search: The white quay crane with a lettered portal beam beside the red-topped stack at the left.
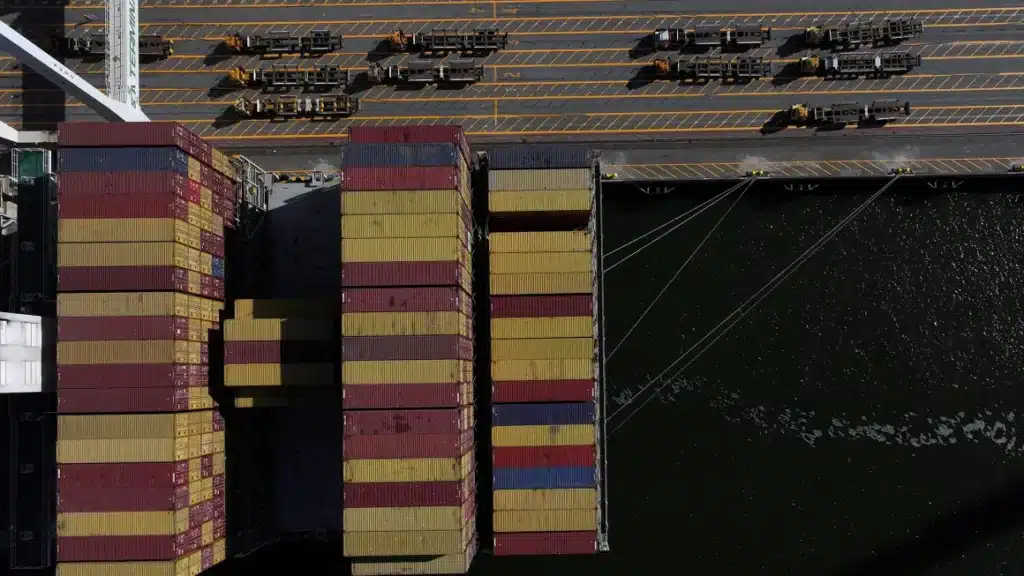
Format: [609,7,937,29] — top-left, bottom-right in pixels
[0,0,152,148]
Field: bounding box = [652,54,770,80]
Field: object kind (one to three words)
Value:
truck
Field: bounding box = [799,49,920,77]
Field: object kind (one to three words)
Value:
truck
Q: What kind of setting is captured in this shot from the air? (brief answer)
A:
port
